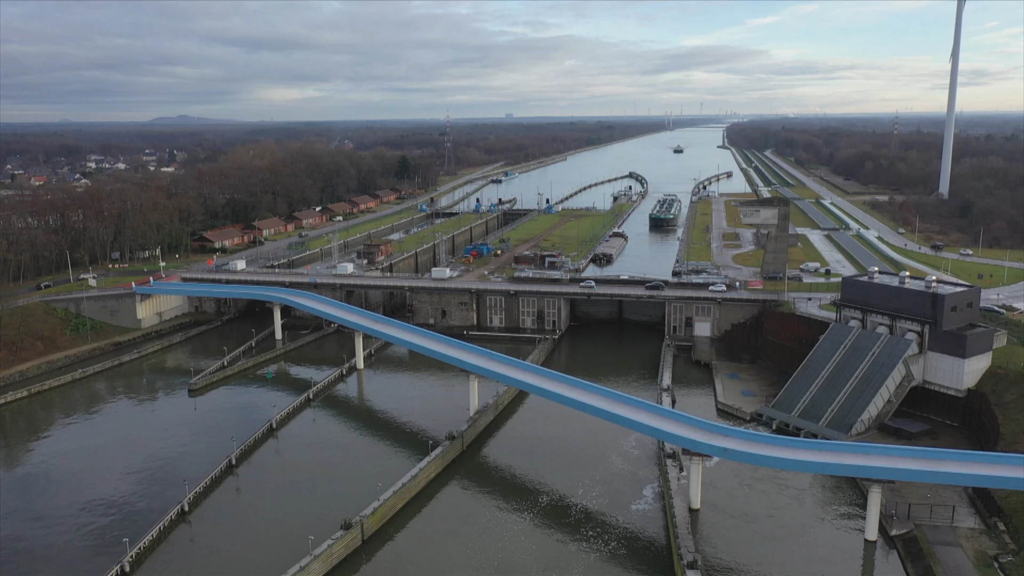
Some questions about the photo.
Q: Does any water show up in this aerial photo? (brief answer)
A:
Yes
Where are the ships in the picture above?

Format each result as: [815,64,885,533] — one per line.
[651,190,685,224]
[675,143,685,152]
[595,223,635,267]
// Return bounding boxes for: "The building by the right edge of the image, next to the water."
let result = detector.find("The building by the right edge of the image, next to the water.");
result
[758,269,1004,442]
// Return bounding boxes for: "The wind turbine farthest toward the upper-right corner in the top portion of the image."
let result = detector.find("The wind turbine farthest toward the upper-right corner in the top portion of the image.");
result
[938,0,966,193]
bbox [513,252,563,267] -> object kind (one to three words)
building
